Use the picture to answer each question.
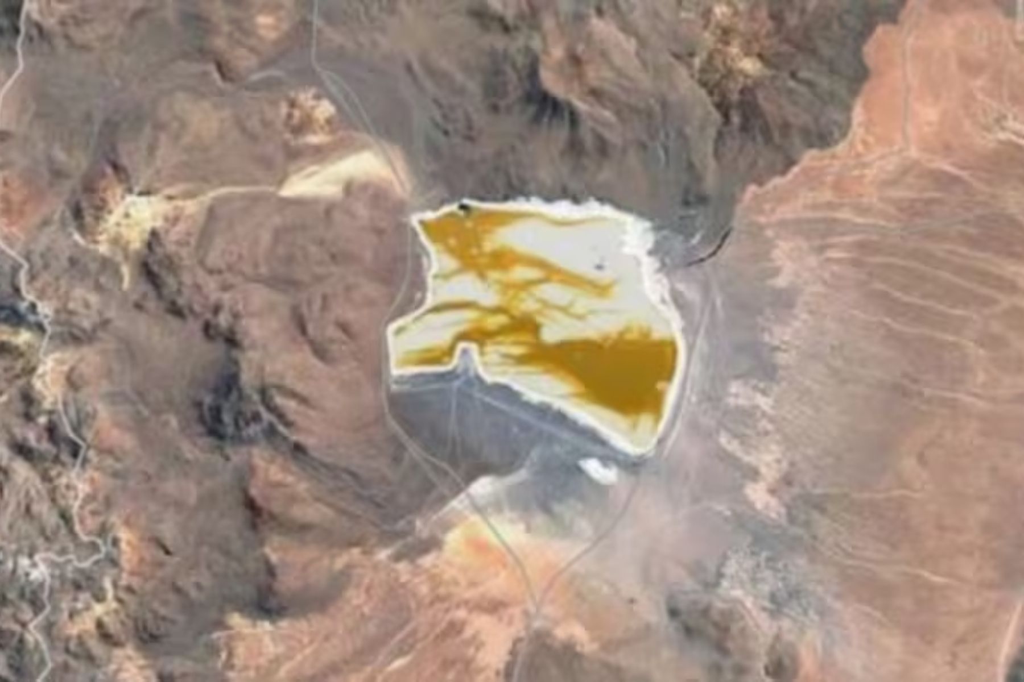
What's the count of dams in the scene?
1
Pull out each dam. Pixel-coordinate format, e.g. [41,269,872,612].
[389,346,654,481]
